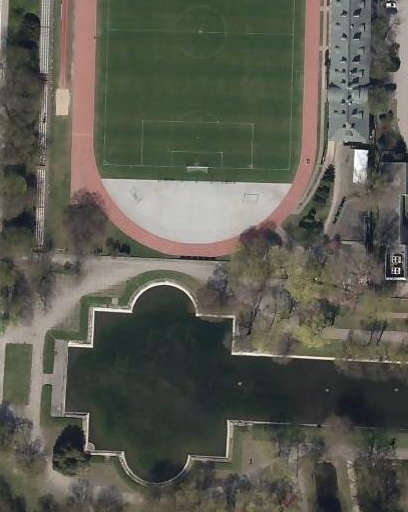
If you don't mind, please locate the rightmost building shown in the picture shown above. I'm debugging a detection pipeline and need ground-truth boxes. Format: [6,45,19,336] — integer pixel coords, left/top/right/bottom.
[376,162,408,279]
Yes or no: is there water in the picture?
Yes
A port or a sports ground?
sports ground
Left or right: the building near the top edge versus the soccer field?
on its right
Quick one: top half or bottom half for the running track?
top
